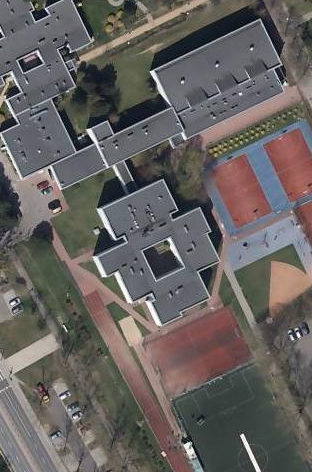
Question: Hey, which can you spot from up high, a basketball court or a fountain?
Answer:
basketball court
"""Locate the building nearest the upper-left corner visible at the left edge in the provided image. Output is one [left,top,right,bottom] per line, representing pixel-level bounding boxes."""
[0,0,97,115]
